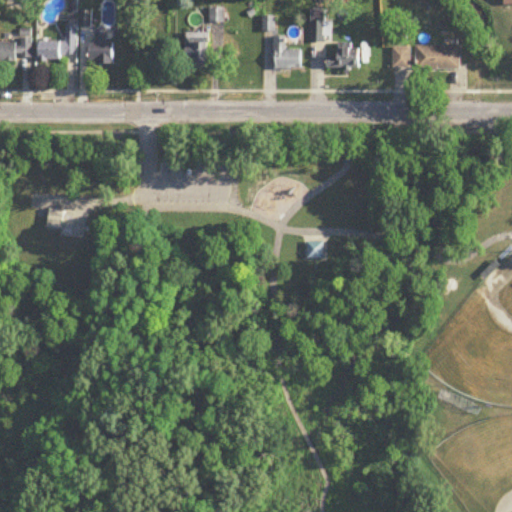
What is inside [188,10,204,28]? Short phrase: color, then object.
green swimming pool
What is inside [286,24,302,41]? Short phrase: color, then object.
blue swimming pool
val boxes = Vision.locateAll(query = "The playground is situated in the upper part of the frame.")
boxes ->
[251,178,309,221]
